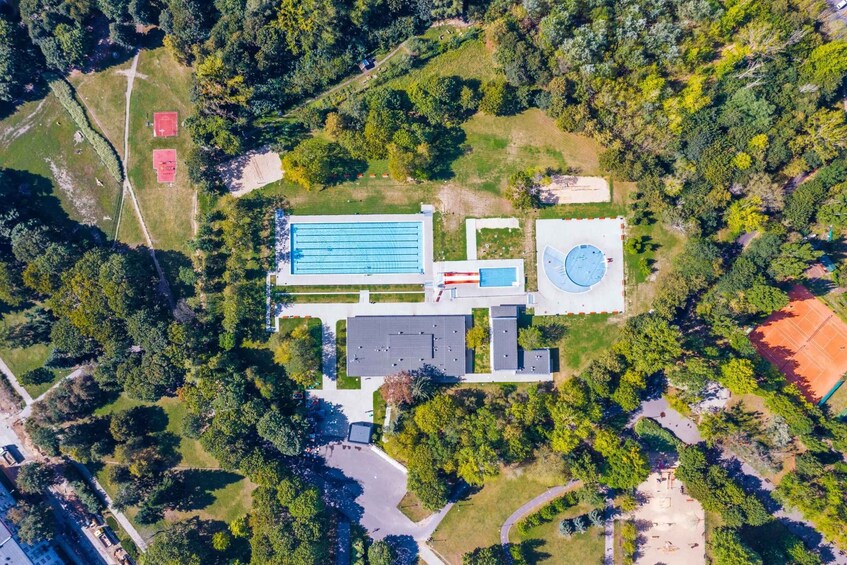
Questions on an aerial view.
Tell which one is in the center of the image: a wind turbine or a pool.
pool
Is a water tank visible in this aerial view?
No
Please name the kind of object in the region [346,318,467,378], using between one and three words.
building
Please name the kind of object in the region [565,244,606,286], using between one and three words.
swimming pool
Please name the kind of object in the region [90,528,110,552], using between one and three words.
vehicle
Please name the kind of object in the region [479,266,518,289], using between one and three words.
swimming pool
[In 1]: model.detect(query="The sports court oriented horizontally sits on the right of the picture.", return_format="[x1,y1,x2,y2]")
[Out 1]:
[541,176,610,203]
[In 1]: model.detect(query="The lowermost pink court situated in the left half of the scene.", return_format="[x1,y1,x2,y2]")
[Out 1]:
[152,149,176,185]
